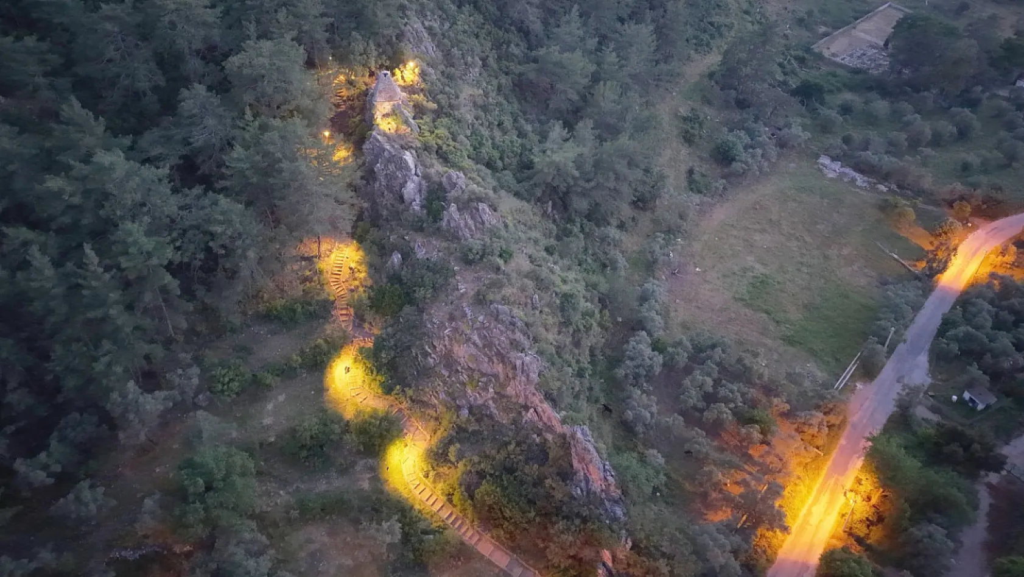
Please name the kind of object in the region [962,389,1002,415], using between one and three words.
shed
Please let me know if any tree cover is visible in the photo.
Yes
